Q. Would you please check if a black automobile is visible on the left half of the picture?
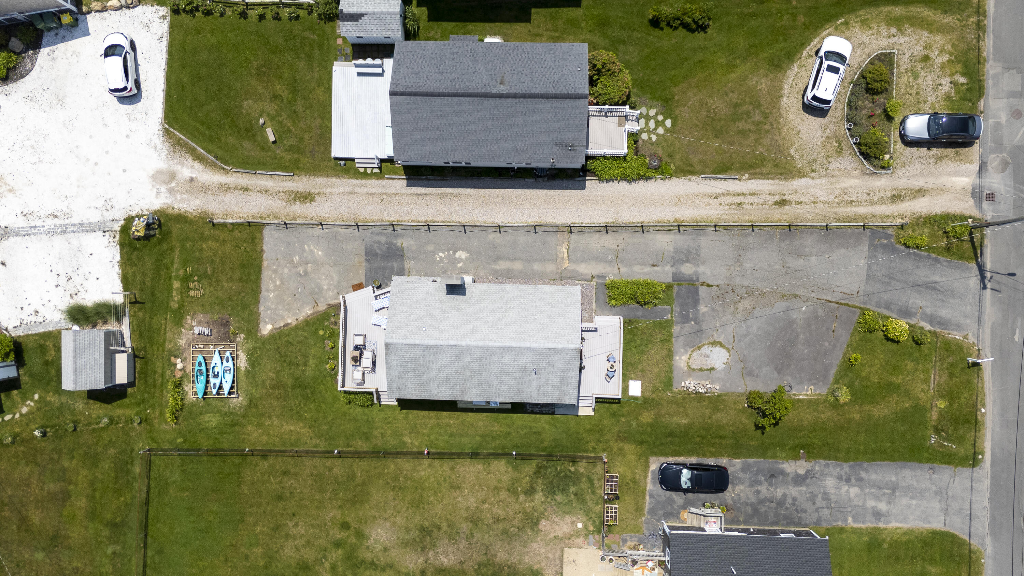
No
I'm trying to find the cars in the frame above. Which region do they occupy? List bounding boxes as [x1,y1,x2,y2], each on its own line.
[95,31,138,96]
[898,110,984,146]
[803,37,850,113]
[657,459,731,496]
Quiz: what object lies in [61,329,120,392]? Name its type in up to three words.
shed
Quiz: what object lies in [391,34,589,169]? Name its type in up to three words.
house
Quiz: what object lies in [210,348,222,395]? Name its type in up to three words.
boat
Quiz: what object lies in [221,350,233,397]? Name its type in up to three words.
boat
